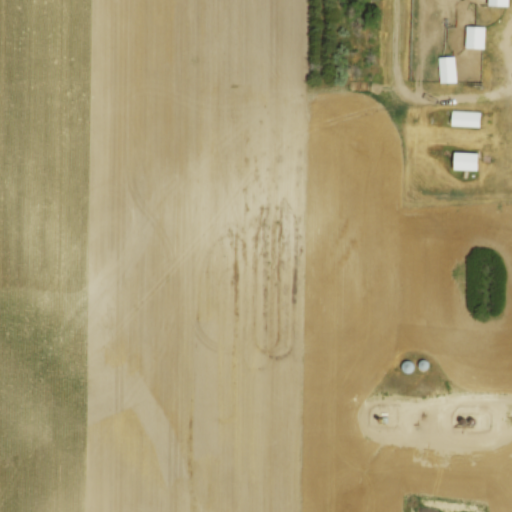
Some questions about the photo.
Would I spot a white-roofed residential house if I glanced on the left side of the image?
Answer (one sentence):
No, no white-roofed residential house is visible on the left side of the image.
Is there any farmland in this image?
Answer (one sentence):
Yes, some farmland is visible.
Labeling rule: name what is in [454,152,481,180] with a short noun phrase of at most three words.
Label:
house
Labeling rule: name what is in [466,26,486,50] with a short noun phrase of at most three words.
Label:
barn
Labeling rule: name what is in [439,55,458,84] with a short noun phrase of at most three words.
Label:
barn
